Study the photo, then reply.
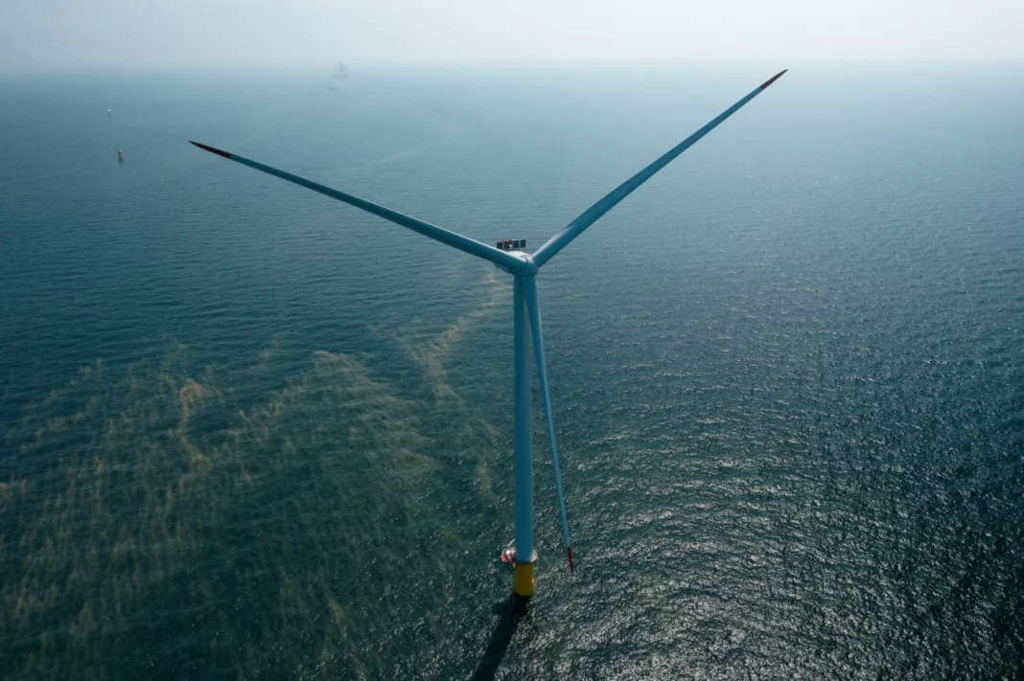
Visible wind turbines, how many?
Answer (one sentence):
Altogether the scene contains 1 wind turbine.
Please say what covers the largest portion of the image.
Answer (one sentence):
The scene is dominated by water.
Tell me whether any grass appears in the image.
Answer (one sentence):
No, no grass is visible.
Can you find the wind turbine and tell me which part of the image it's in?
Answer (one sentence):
Look in the center portion of the view to spot the wind turbine.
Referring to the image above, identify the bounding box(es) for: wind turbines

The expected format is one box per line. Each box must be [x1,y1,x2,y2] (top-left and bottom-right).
[191,67,789,596]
